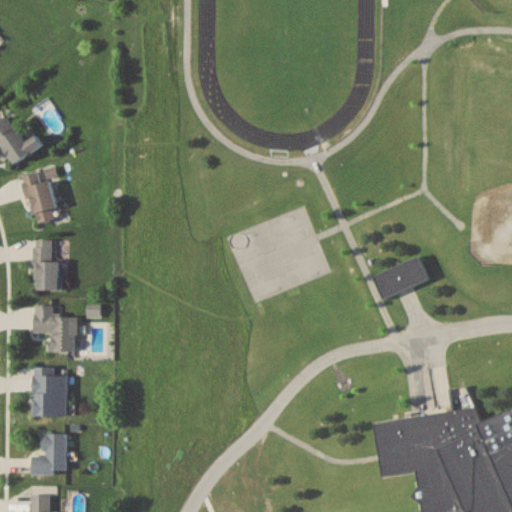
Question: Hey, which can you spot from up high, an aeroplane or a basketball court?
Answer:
basketball court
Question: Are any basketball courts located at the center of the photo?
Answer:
Yes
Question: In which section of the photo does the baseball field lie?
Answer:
right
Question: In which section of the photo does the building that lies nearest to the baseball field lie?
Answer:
right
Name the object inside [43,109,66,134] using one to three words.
swimming pool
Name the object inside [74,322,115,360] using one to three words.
swimming pool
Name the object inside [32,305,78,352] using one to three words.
house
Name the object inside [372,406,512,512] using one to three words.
building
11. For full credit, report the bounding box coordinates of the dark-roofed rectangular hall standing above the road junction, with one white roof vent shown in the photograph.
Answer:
[373,256,429,301]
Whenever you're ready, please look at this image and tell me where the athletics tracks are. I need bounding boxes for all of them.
[200,0,374,150]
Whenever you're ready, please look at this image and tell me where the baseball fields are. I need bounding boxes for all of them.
[470,184,512,266]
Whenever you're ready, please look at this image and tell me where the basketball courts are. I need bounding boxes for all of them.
[227,206,331,302]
